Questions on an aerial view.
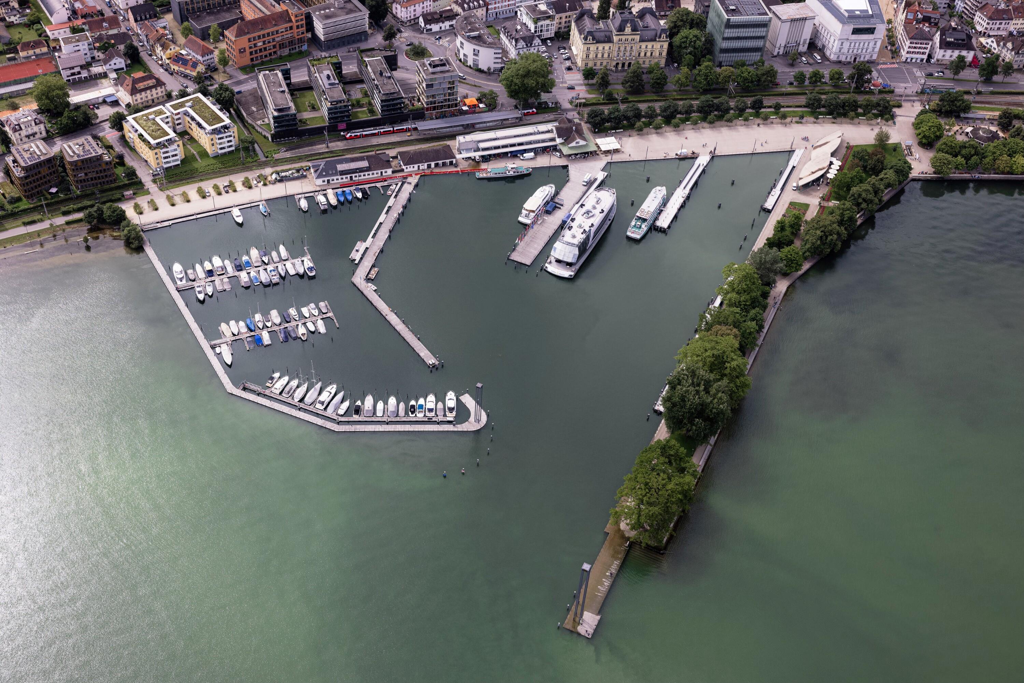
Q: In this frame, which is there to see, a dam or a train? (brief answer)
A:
train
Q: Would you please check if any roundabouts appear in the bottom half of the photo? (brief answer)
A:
No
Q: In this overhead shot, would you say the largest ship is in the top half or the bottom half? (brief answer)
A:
top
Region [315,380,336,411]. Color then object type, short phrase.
white boat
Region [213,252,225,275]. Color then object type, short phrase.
white boat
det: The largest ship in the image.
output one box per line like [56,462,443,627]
[545,185,615,278]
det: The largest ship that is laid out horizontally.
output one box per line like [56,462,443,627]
[475,163,532,179]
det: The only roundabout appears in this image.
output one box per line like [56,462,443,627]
[389,37,449,69]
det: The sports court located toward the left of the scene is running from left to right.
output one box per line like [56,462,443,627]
[0,45,59,83]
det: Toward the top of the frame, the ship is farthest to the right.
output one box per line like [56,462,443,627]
[628,186,665,240]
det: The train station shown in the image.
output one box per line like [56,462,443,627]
[273,108,555,160]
